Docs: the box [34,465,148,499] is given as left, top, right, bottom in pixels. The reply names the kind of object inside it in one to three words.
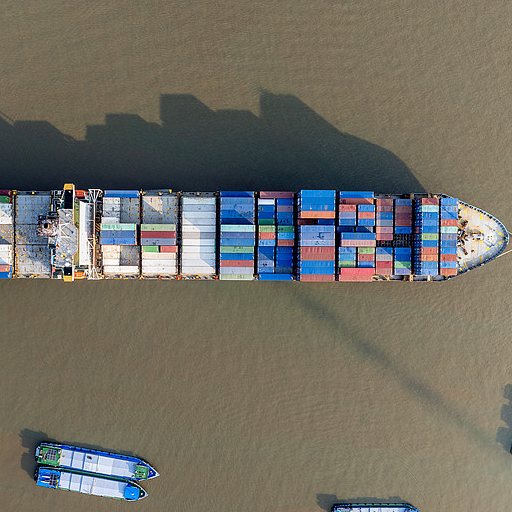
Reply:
ship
